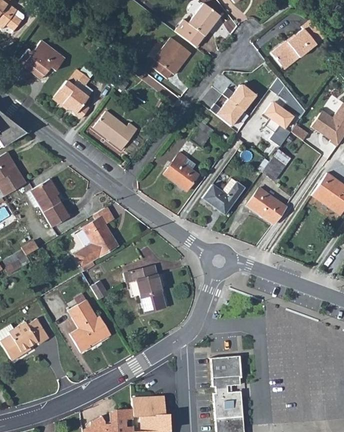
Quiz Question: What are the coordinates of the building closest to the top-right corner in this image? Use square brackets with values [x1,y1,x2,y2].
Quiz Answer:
[269,23,318,68]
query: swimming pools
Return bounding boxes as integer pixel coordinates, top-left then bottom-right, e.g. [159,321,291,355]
[241,150,254,162]
[0,205,12,224]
